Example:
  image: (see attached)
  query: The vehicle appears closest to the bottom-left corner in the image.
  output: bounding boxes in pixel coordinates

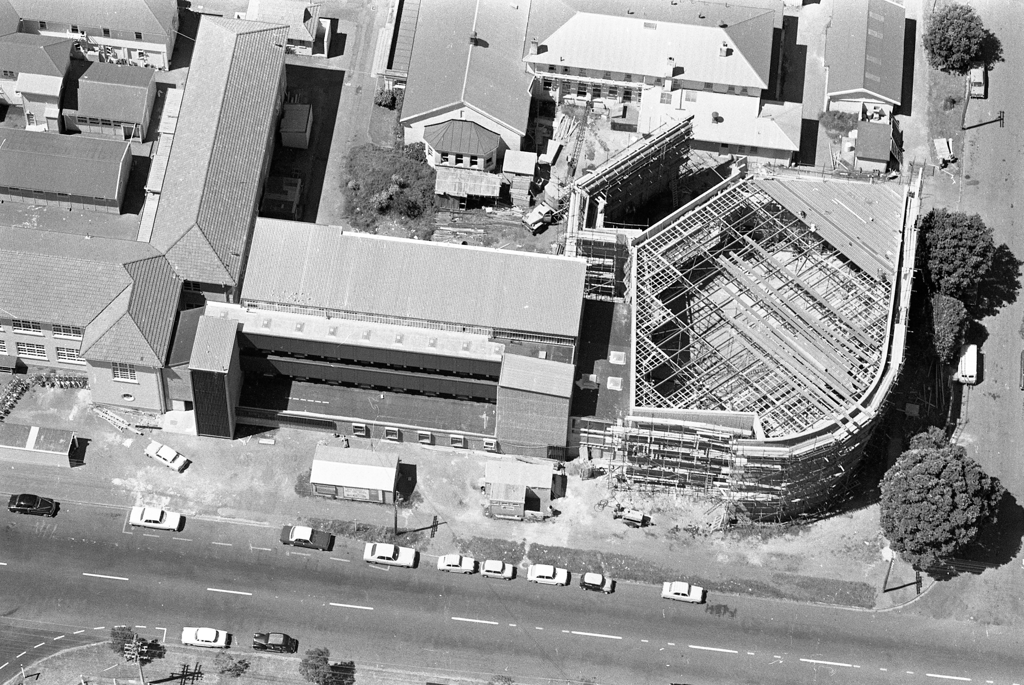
[6,493,59,518]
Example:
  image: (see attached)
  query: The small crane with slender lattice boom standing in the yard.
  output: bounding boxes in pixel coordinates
[561,102,590,184]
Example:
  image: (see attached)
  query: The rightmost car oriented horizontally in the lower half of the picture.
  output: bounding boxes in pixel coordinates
[659,580,706,605]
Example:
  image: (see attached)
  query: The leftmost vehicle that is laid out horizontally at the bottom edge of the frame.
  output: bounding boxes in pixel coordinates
[179,625,231,651]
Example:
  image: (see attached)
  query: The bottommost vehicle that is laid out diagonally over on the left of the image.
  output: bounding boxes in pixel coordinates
[144,437,190,475]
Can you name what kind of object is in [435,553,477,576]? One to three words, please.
car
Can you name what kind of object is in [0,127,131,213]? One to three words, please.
shed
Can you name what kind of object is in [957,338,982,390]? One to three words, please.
vehicle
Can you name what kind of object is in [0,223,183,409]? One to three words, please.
building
